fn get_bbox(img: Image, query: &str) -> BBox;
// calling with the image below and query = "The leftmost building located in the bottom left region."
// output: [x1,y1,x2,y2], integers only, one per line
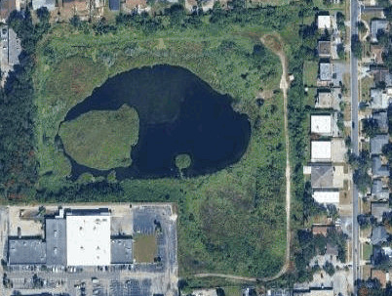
[8,239,47,264]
